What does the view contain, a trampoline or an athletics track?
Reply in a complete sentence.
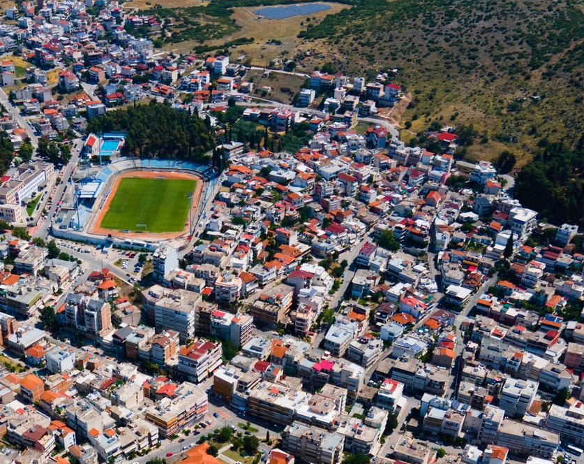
The image shows an athletics track.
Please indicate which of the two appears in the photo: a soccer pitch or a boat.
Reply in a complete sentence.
The image shows a soccer pitch.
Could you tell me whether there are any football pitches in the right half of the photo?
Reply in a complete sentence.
No, there's no football pitch to be seen in the right half of the photo.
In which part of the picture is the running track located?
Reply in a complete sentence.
The running track is in the left part of the image.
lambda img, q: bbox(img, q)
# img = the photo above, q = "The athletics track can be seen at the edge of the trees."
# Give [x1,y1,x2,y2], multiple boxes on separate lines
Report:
[94,172,201,238]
